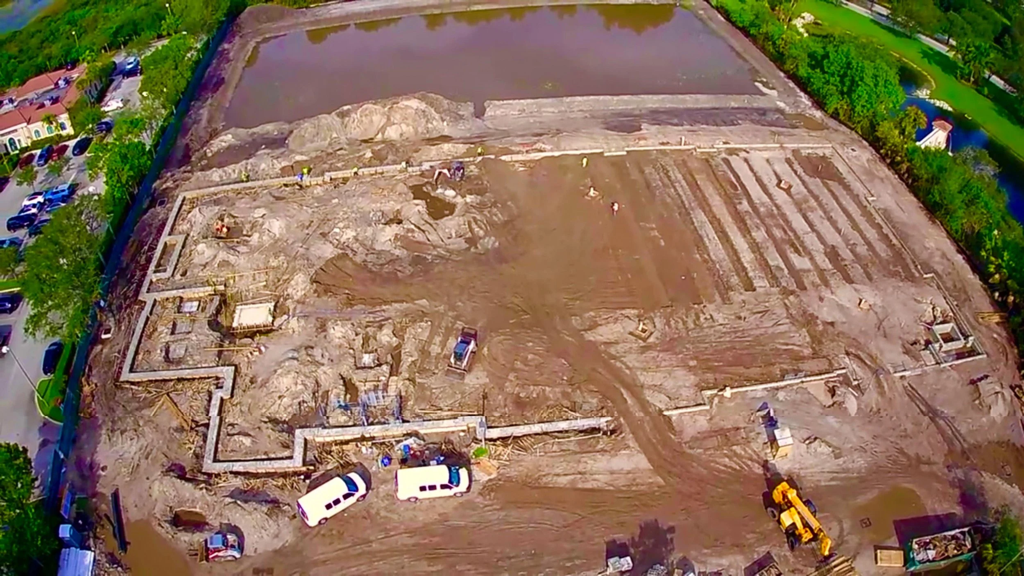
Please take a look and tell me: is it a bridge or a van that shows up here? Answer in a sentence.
Looking from above, you can make out a van.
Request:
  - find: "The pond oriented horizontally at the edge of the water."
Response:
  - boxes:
[221,4,770,130]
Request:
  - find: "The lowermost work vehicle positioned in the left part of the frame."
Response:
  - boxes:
[195,538,239,568]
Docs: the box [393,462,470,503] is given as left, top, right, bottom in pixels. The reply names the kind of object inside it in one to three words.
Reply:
van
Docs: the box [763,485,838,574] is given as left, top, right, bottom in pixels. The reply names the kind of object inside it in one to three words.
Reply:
work vehicle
